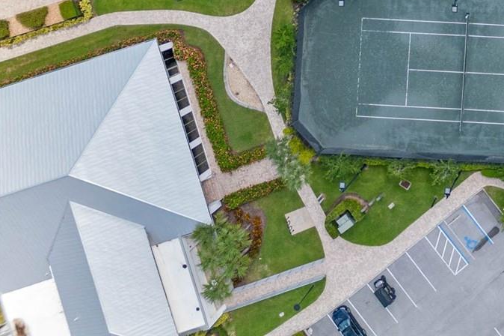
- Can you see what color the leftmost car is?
blue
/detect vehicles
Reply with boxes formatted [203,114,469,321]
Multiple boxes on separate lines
[333,307,368,336]
[375,280,396,309]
